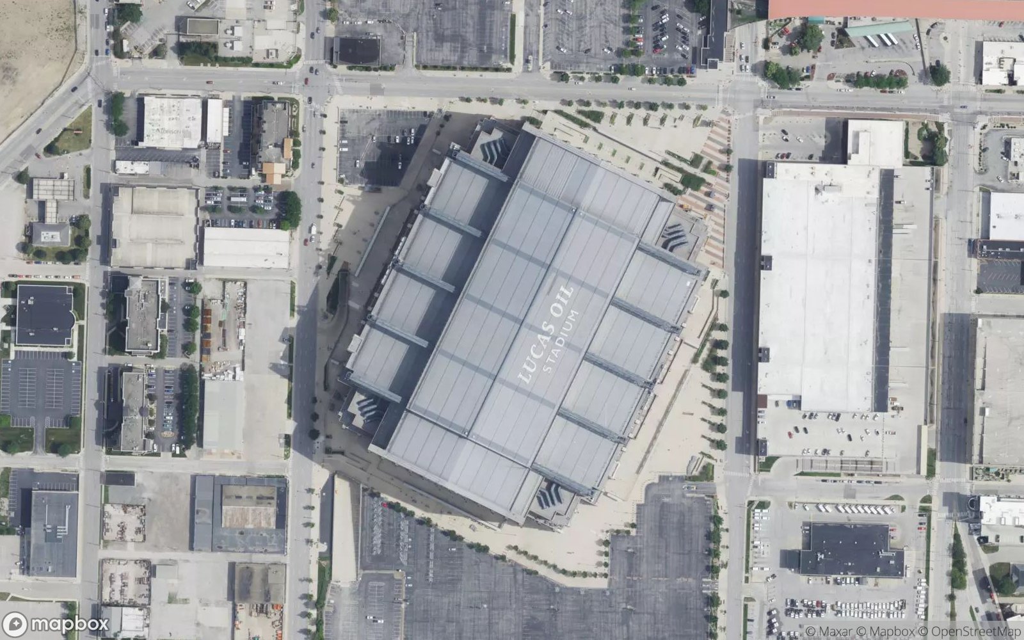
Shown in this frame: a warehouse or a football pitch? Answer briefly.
warehouse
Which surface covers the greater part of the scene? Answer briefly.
paved ground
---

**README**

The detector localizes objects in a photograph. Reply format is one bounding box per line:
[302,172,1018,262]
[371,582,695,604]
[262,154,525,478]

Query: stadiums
[335,116,713,531]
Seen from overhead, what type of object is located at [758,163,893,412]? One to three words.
warehouse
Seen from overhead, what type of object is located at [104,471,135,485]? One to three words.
shed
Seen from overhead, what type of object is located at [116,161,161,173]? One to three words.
building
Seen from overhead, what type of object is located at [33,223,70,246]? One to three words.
building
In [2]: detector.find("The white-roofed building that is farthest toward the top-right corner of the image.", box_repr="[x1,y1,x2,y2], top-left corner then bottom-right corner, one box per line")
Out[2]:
[982,42,1024,85]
